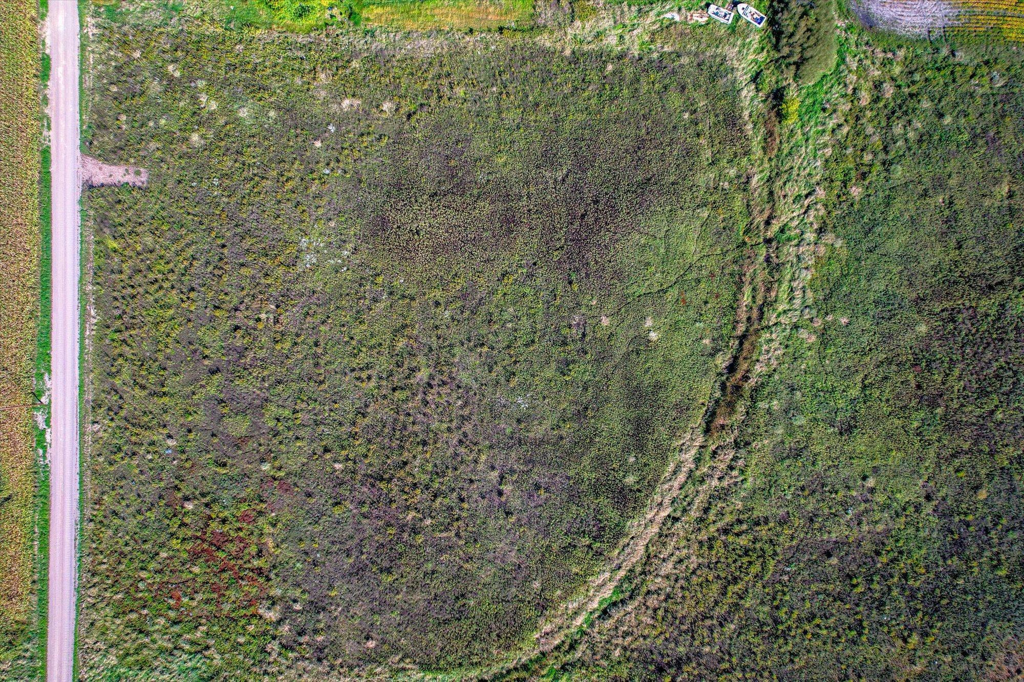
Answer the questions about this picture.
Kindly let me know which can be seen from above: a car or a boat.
boat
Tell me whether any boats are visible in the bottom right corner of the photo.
No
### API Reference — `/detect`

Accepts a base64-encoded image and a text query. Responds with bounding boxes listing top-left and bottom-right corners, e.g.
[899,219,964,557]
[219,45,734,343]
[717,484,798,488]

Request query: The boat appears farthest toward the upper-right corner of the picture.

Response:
[738,2,767,26]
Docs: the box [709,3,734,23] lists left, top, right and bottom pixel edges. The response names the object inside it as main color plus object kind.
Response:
white boat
